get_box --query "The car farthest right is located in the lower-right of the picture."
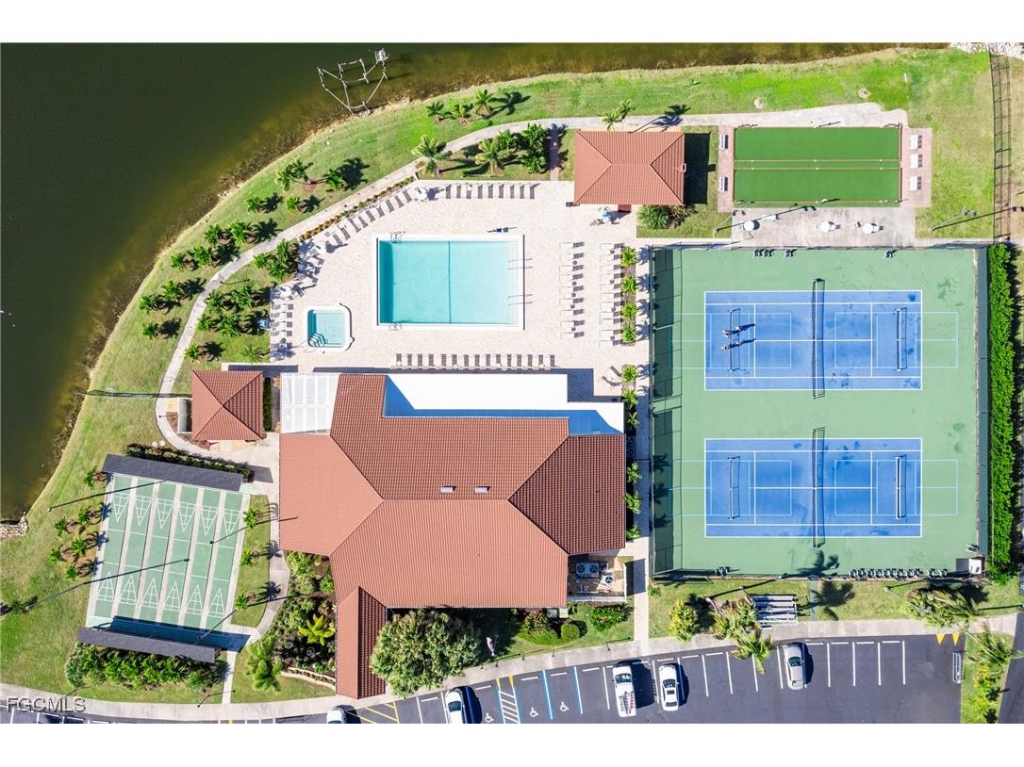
[781,642,805,688]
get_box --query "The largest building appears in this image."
[279,373,626,699]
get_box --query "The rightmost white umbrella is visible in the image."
[598,209,612,223]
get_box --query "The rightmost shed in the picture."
[961,559,986,579]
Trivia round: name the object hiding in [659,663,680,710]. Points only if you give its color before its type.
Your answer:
white car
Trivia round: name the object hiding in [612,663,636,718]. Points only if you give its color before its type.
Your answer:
white vehicle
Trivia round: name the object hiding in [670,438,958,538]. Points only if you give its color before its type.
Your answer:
blue tennis court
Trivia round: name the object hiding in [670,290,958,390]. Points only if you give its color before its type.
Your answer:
blue tennis court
